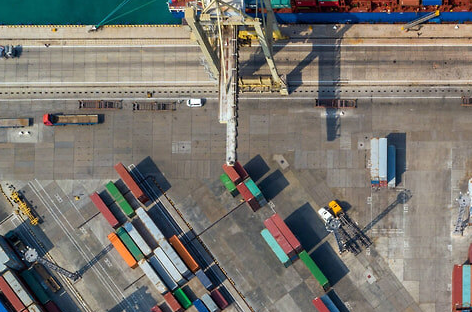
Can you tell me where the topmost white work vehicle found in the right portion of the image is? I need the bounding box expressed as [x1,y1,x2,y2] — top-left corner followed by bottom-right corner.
[316,204,331,222]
